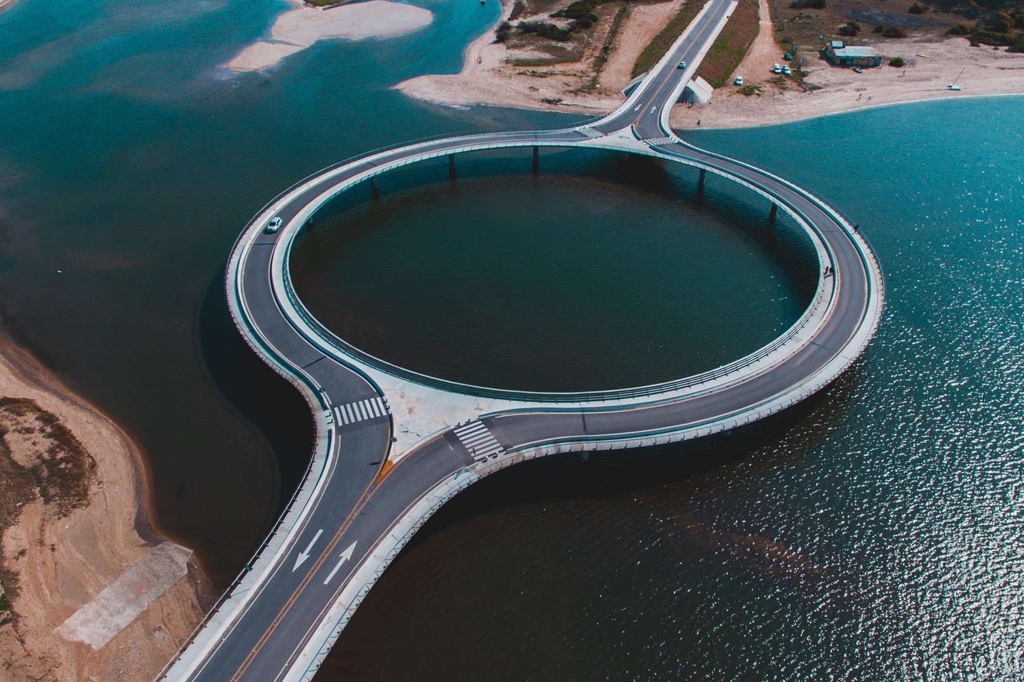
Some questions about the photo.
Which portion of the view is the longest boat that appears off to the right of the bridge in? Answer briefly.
top right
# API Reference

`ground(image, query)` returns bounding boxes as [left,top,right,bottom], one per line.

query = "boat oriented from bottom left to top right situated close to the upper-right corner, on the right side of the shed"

[940,56,975,90]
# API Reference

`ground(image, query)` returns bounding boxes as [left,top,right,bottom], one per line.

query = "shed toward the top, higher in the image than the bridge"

[825,40,889,67]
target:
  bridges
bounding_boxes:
[151,73,886,682]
